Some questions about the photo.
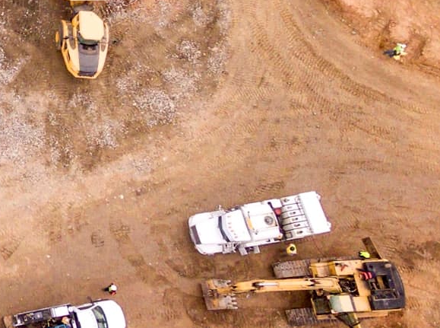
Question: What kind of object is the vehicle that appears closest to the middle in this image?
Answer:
truck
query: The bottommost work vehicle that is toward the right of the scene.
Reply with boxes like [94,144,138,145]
[207,256,404,328]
